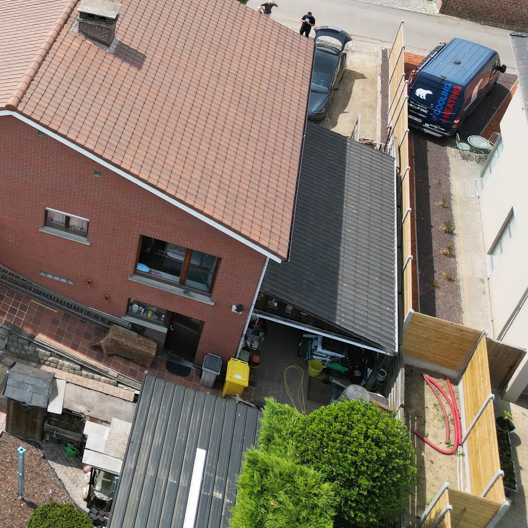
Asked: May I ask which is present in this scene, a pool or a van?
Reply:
van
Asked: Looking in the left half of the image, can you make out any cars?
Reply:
No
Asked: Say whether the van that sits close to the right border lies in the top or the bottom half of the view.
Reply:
top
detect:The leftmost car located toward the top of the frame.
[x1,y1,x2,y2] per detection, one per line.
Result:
[308,22,366,118]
